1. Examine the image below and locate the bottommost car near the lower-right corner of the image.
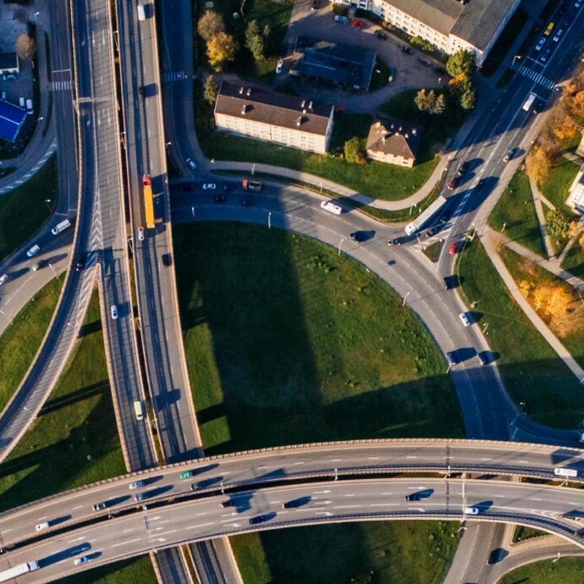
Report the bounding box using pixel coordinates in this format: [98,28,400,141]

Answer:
[488,549,500,565]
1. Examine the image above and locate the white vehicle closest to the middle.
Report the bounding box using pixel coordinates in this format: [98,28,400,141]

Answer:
[322,202,343,215]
